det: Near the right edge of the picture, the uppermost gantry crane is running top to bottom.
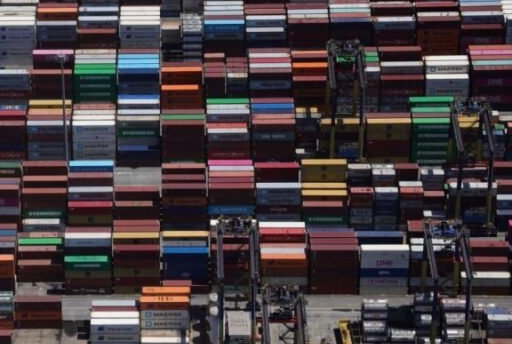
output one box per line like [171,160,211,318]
[446,100,500,233]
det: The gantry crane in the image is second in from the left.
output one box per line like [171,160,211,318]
[252,283,304,344]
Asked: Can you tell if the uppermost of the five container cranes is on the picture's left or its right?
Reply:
right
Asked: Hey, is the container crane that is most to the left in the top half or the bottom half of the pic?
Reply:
bottom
